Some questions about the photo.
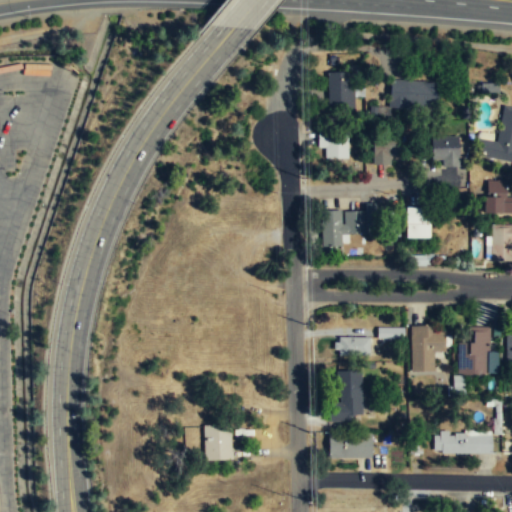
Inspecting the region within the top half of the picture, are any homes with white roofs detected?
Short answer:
Yes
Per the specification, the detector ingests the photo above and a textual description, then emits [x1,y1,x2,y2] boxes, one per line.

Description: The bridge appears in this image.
[210,0,288,31]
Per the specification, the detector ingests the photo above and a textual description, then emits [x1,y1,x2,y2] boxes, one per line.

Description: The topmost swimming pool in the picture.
[478,102,492,132]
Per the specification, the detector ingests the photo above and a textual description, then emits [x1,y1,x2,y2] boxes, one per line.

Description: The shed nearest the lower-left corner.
[184,427,201,448]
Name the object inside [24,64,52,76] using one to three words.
shed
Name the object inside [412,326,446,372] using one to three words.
house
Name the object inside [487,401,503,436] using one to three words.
shed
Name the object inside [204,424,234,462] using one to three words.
house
